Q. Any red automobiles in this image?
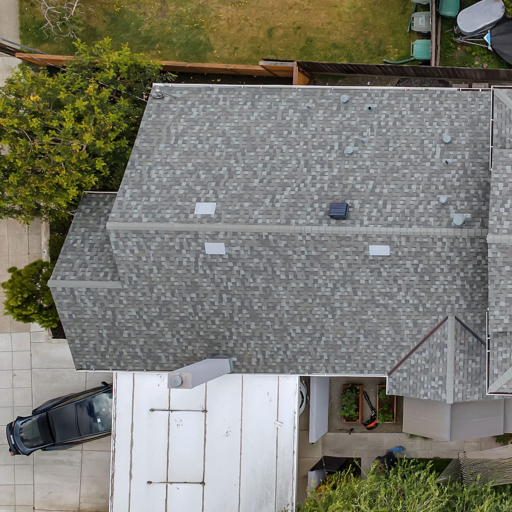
No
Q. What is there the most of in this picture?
buildings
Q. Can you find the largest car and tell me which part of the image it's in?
bottom left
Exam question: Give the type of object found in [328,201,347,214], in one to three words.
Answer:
solar panel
